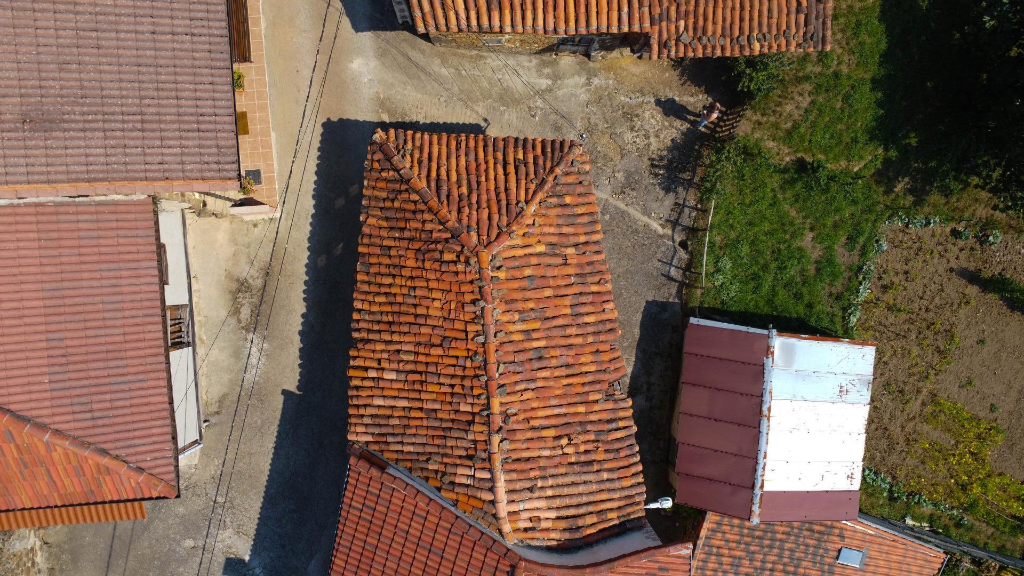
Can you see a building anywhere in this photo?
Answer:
Yes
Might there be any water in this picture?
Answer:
No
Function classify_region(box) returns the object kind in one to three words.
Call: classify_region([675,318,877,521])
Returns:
shed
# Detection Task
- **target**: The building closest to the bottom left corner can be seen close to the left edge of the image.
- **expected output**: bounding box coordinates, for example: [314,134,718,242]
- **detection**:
[0,197,211,532]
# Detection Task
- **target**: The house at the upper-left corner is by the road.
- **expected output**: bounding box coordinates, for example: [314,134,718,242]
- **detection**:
[0,0,245,201]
